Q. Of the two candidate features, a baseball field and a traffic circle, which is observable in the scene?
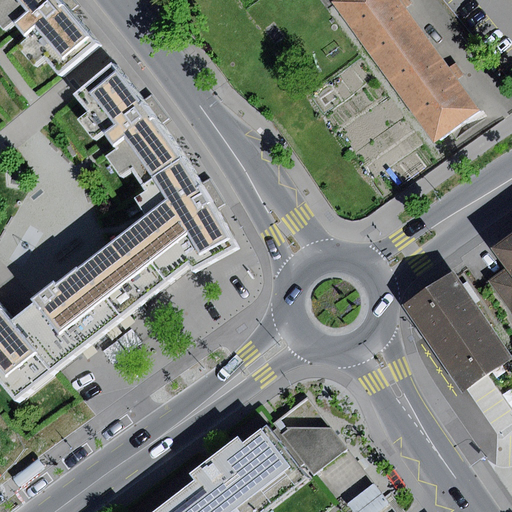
traffic circle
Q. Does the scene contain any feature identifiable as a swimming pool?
No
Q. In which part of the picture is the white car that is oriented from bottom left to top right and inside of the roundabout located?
right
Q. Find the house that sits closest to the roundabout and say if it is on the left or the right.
right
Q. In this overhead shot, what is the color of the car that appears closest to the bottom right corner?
black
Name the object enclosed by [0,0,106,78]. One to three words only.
building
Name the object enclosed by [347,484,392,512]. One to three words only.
shed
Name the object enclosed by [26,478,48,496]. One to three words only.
car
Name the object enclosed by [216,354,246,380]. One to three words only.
truck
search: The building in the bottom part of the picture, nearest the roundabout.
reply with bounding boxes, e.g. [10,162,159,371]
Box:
[402,271,512,394]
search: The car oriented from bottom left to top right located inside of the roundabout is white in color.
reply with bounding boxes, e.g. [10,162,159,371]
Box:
[372,292,394,317]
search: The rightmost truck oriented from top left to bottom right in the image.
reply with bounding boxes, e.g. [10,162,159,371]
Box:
[479,248,500,273]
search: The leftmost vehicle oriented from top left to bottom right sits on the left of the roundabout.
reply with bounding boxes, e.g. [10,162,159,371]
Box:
[203,300,221,321]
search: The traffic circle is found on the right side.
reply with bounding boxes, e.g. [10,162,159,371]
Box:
[270,238,402,369]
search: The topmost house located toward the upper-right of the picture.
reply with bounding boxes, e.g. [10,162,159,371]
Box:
[330,0,488,141]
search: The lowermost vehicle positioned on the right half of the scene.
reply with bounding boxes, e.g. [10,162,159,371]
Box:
[449,486,468,510]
